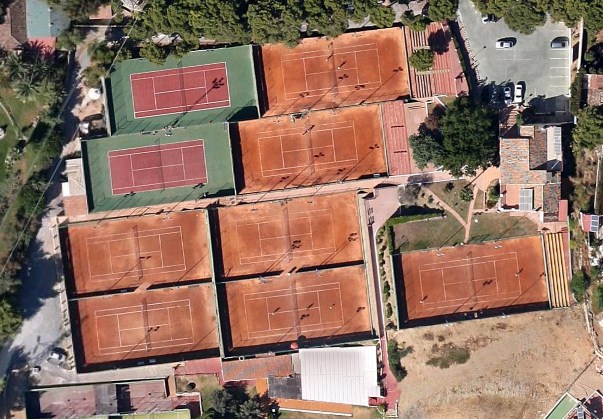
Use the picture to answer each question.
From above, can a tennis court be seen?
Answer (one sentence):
Yes, looking at the shot, I can spot a tennis court.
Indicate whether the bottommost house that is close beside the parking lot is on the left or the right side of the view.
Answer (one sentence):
It is on the right.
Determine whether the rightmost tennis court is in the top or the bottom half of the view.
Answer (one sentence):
The rightmost tennis court is in the bottom half of the image.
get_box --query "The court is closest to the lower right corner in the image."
[393,236,549,329]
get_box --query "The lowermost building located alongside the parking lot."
[498,125,568,222]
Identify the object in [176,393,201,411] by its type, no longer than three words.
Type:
shed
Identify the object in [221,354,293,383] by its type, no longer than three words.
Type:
building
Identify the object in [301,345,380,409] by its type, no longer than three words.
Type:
building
